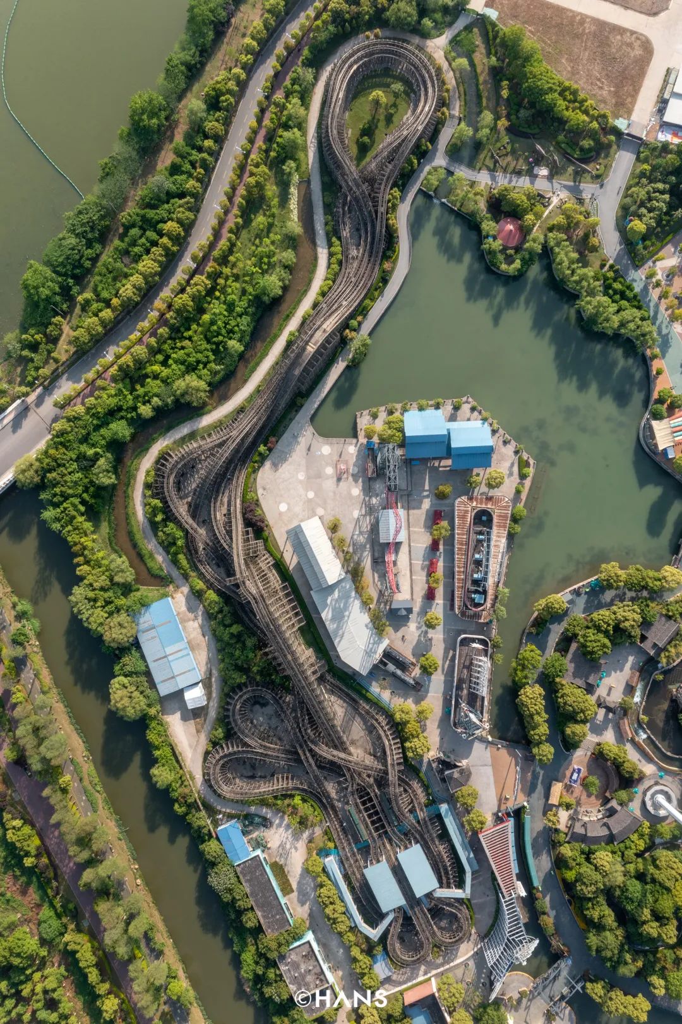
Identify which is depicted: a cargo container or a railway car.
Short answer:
railway car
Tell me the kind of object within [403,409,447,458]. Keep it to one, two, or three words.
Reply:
shed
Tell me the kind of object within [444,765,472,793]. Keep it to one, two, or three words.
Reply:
house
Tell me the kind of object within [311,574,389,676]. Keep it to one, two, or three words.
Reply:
building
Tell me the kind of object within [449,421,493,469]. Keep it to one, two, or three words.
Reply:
shed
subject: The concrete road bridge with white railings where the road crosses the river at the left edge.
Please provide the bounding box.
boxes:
[0,387,54,488]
